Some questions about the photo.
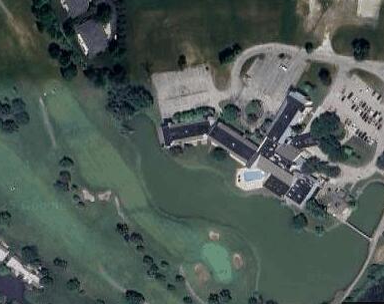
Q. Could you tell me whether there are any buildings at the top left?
Yes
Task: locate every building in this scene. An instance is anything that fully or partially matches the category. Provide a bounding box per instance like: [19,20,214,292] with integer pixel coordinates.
[156,90,319,206]
[5,252,43,291]
[59,0,93,22]
[75,17,111,60]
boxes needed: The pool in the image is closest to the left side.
[235,167,268,190]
